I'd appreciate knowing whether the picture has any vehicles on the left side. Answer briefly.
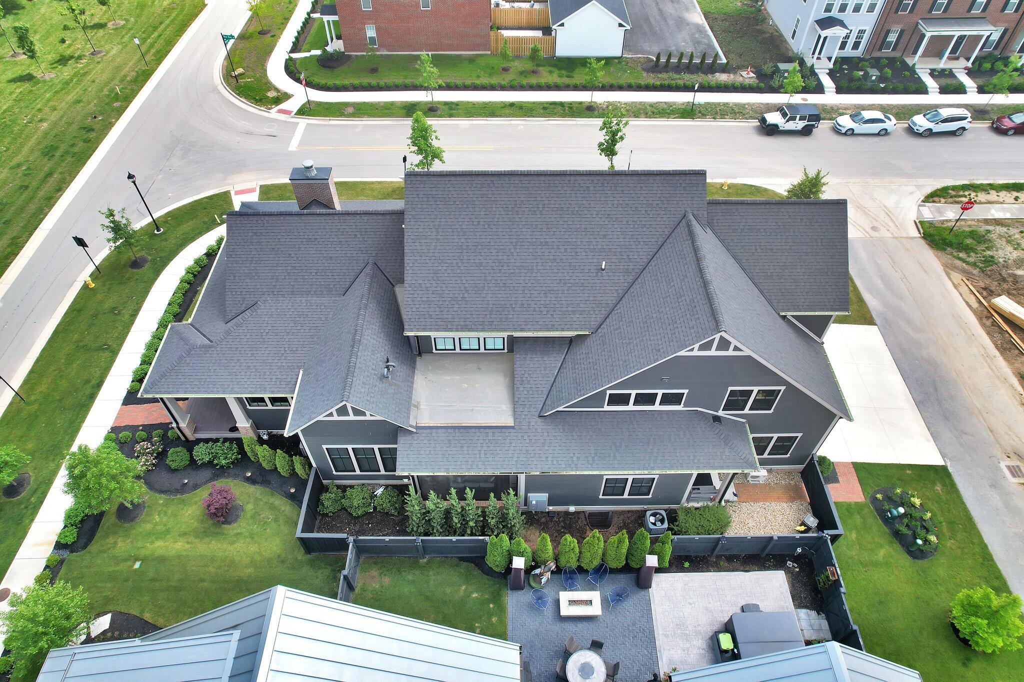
No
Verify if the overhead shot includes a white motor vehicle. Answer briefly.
Yes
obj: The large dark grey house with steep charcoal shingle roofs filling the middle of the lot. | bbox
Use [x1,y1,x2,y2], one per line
[138,156,856,515]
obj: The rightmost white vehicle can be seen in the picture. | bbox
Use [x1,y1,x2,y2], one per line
[902,102,977,135]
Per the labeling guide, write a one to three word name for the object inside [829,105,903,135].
car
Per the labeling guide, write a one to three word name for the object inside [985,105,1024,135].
car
